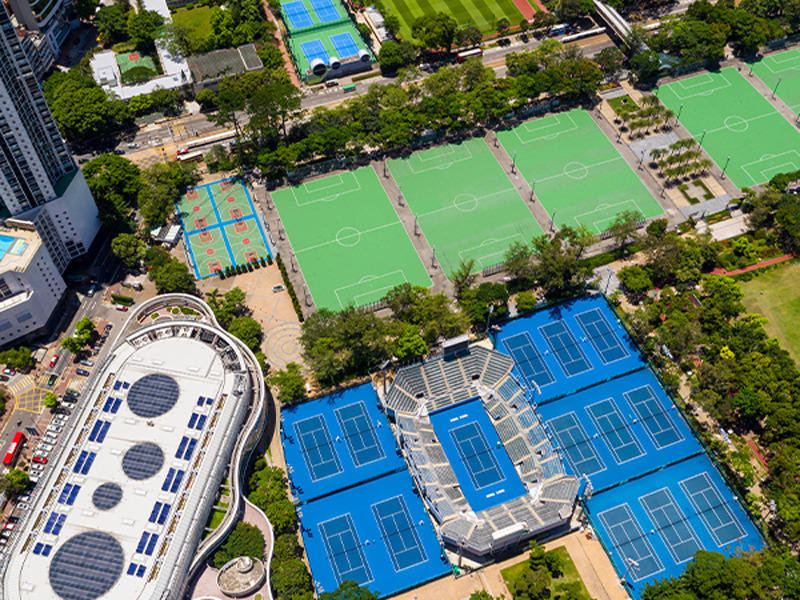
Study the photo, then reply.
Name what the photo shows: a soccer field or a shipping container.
soccer field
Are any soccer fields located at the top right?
Yes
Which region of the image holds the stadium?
bottom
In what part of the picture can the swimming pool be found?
left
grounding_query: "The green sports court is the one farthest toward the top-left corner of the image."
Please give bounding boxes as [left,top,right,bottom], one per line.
[114,48,163,83]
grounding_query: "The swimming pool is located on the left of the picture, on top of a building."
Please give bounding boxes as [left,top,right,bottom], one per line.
[0,236,27,259]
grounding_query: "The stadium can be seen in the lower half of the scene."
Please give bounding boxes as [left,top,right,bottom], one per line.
[386,344,580,562]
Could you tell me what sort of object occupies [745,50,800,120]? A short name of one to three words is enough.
soccer field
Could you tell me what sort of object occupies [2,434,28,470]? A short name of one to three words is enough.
bus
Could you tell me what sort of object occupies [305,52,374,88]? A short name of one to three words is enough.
building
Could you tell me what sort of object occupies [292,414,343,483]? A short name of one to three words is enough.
tennis court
